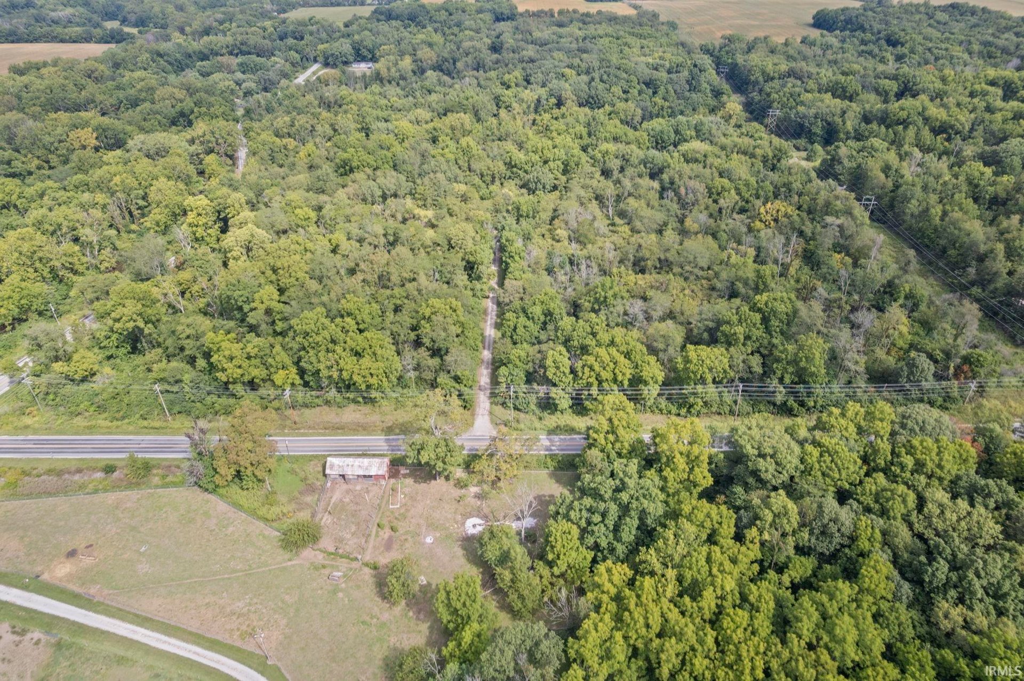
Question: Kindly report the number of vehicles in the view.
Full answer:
No vehicles are visible.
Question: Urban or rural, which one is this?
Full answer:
The area is rural.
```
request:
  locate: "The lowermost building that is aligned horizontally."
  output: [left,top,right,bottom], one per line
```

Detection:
[324,455,390,487]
